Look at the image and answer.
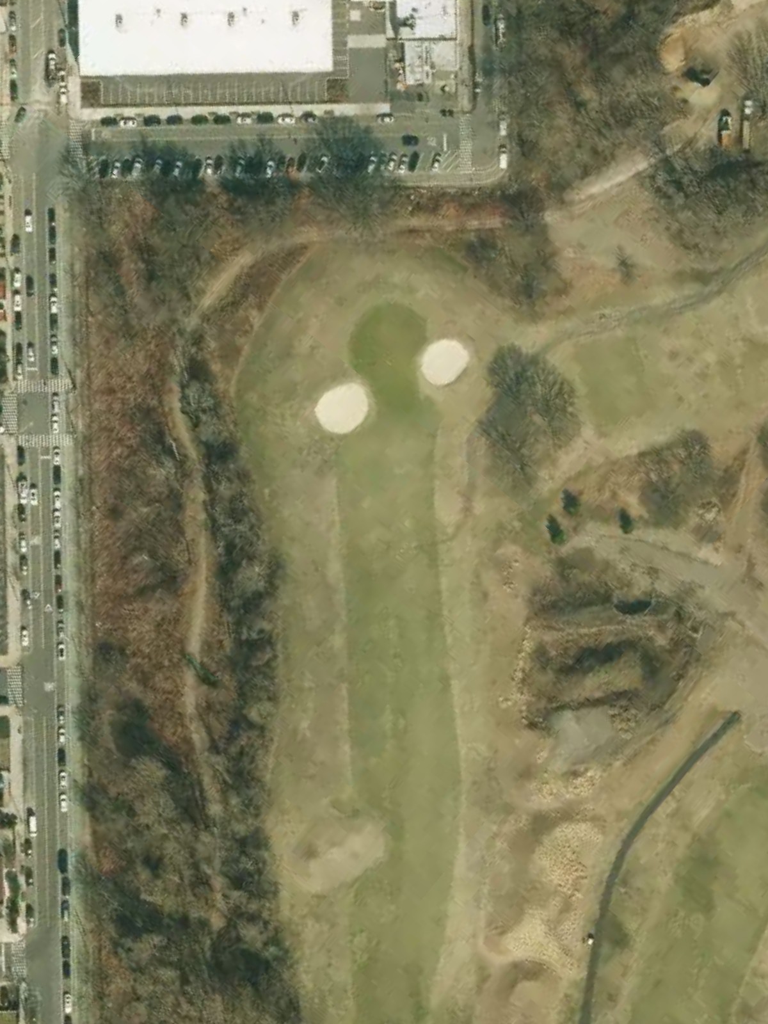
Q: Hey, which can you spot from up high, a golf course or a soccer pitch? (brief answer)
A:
golf course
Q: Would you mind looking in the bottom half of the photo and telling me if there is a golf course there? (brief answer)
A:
Yes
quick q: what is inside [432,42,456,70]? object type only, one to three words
building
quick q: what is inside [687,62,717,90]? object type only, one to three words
work vehicle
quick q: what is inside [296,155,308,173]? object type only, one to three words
vehicle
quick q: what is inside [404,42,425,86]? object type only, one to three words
building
